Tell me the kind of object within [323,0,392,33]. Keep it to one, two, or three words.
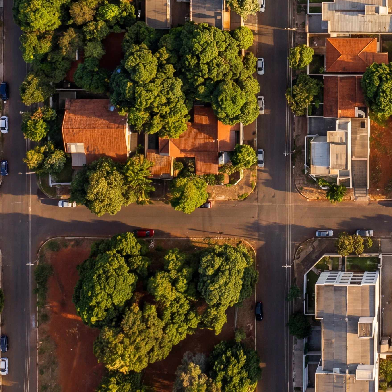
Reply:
house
